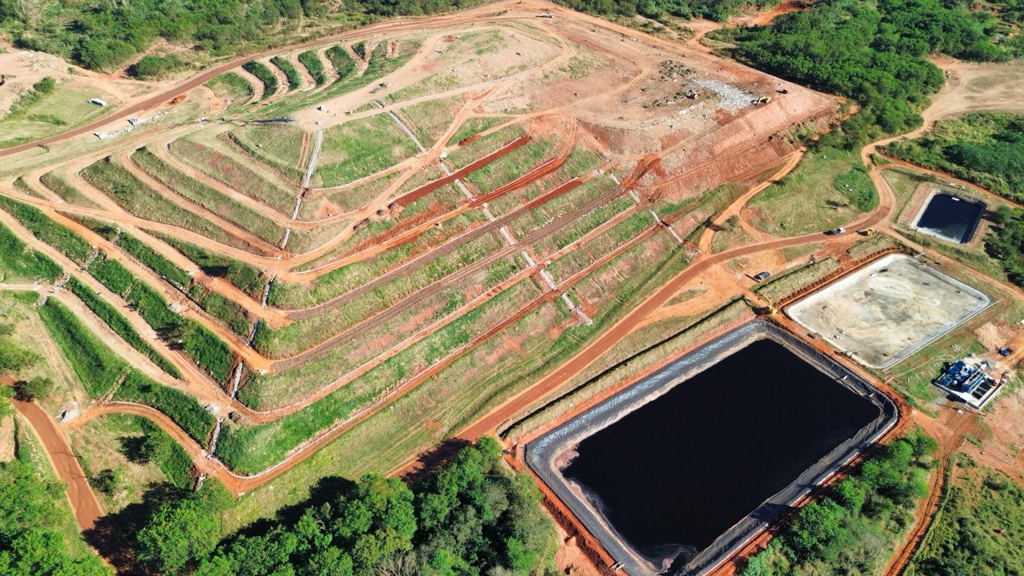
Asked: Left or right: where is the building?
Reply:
right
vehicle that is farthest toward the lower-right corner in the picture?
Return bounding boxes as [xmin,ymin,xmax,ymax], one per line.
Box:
[997,343,1017,356]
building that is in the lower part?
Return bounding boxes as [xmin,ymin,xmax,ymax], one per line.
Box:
[932,360,1010,412]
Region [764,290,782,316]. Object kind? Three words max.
work vehicle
